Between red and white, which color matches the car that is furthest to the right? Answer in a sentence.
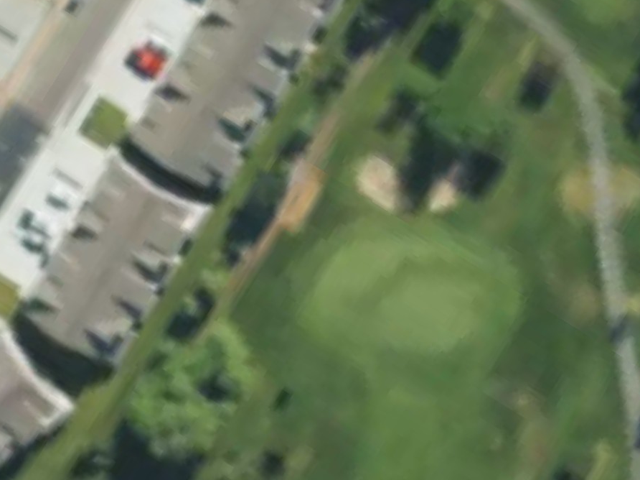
The car that is furthest to the right is red.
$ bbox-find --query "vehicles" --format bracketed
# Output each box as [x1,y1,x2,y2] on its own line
[128,43,167,76]
[44,177,81,207]
[66,0,85,11]
[18,214,59,246]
